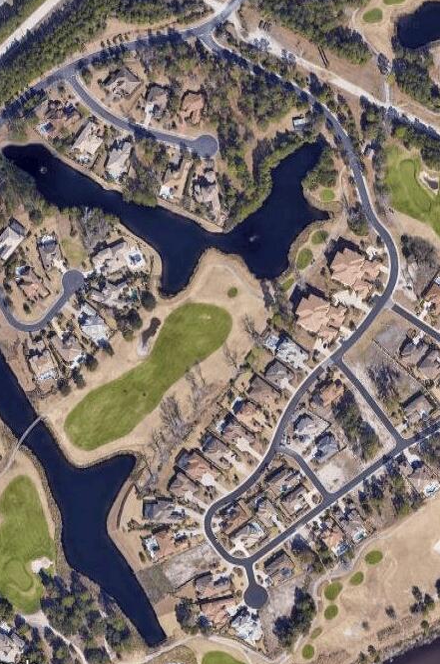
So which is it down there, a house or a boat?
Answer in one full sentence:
It is a house that can be seen here.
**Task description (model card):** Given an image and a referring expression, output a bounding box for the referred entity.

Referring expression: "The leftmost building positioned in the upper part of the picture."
[0,222,26,257]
